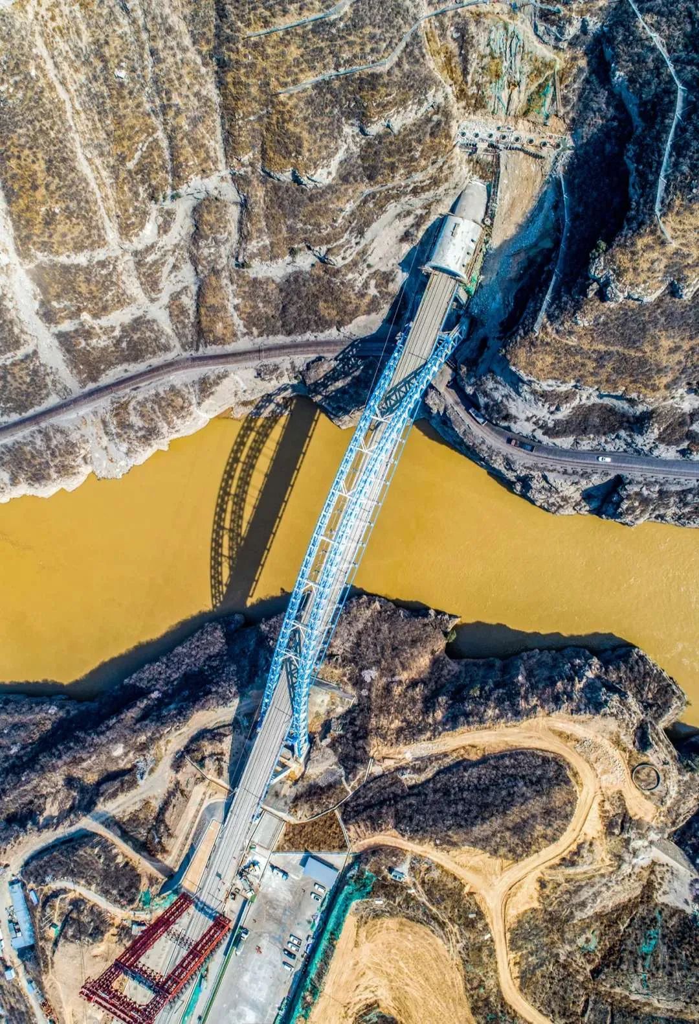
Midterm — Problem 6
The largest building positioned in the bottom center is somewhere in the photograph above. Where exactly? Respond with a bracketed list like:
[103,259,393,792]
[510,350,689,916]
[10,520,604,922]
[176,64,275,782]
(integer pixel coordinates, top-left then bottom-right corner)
[304,854,341,888]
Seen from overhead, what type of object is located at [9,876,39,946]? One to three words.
building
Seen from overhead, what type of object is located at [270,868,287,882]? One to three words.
vehicle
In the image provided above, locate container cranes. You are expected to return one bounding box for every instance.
[82,890,230,1024]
